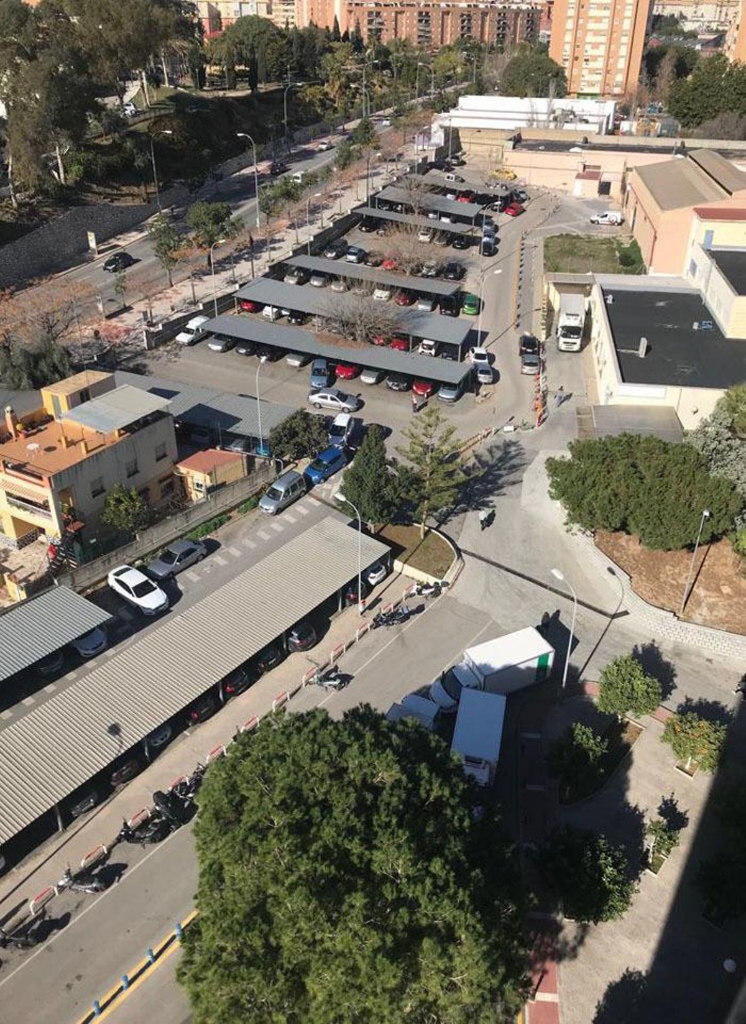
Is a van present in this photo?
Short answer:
Yes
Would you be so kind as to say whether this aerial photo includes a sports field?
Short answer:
No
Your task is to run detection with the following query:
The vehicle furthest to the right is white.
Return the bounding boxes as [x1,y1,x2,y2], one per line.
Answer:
[588,207,626,225]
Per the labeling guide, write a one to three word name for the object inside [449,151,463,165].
car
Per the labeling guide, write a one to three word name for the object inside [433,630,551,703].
truck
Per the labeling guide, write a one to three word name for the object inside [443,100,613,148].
shed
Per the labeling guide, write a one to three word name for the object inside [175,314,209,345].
van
